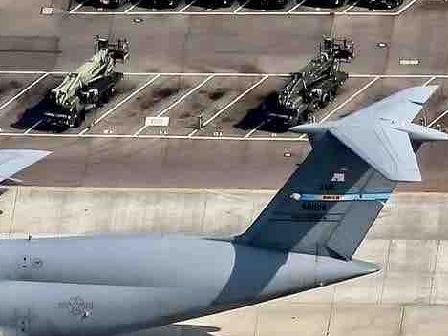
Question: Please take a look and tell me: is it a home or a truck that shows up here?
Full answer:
Of the two, only a truck appears.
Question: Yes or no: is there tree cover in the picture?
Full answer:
No, tree cover can't be seen anywhere here.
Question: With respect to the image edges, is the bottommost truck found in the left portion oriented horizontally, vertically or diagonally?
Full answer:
The bottommost truck found in the left portion has been laid out diagonally relative to the frame.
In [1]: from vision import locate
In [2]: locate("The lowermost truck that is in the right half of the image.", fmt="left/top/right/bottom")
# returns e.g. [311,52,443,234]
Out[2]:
[272,31,350,134]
